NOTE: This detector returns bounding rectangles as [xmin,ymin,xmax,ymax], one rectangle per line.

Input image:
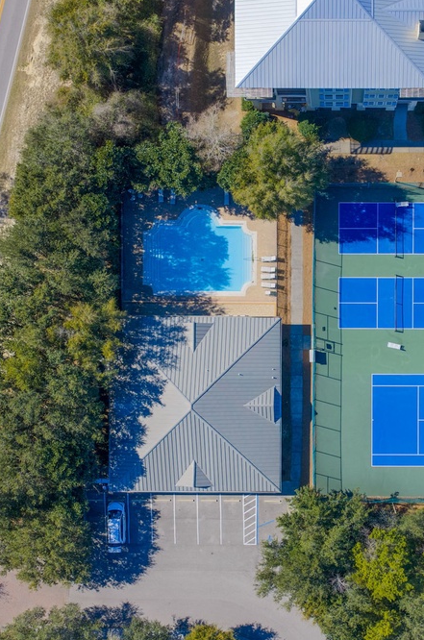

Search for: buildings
[95,315,282,494]
[226,0,424,111]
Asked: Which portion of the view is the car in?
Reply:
bottom left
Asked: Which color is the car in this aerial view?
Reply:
blue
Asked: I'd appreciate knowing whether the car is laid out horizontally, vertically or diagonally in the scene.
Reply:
vertically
